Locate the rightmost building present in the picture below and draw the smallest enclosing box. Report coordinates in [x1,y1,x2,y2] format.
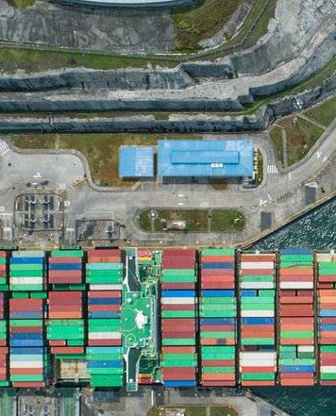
[158,139,253,177]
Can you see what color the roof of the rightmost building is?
blue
